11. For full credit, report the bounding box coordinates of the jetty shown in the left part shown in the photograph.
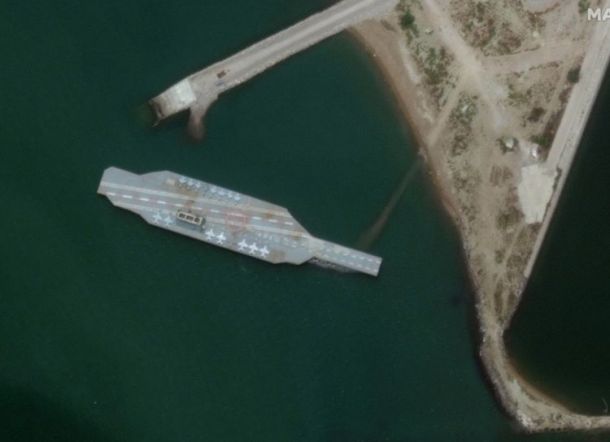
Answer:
[151,78,195,126]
